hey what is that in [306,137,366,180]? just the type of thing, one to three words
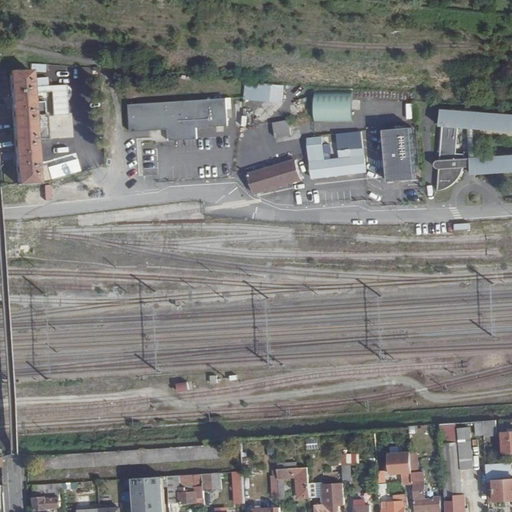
building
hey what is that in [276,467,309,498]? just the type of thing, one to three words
house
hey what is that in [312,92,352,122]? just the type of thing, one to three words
hangar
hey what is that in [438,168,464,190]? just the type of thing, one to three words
building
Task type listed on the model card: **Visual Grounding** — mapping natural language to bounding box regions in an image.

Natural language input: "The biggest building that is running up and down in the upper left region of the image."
[11,70,46,183]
